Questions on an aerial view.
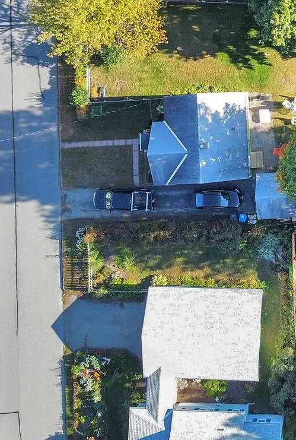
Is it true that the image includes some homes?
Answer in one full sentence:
Yes, a home appears in the view.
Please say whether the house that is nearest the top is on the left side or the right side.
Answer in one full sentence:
You can find the house that is nearest the top on the right side of the picture.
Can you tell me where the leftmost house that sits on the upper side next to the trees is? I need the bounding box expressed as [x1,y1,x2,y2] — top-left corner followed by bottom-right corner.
[137,91,263,186]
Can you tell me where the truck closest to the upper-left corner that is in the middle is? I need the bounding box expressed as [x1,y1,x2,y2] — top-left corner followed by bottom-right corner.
[92,190,152,213]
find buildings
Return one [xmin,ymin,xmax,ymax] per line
[128,284,286,440]
[254,173,295,221]
[137,91,263,186]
